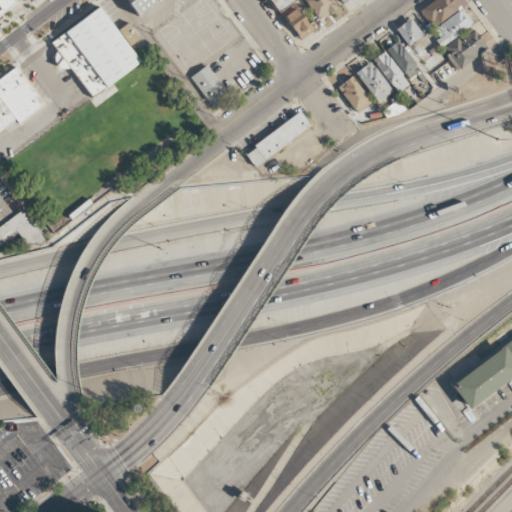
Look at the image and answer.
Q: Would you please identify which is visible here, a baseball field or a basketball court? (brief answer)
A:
basketball court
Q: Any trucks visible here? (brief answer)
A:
Yes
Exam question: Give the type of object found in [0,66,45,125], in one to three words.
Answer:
building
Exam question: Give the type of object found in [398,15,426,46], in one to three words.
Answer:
house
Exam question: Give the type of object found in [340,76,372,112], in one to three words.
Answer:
house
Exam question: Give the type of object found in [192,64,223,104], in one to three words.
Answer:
building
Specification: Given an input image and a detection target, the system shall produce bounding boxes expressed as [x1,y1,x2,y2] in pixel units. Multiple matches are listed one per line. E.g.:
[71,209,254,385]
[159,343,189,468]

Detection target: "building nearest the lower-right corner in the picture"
[456,344,512,409]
